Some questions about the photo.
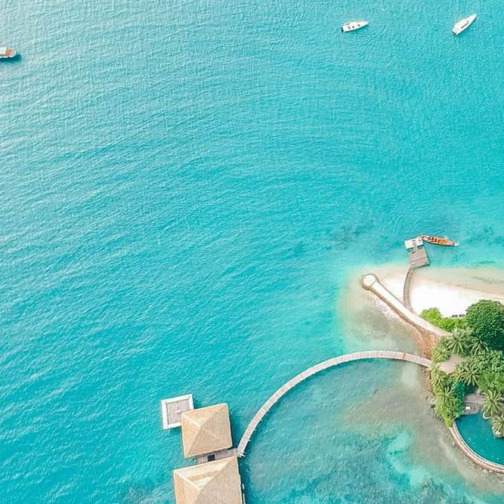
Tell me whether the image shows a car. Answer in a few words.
No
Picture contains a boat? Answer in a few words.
Yes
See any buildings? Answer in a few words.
Yes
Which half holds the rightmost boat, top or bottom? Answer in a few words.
top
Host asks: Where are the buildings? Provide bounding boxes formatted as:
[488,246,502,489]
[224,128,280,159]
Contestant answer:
[179,402,234,458]
[172,456,243,504]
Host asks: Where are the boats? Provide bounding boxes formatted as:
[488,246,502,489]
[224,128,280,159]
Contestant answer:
[419,234,460,246]
[340,21,366,32]
[450,13,476,38]
[0,47,17,58]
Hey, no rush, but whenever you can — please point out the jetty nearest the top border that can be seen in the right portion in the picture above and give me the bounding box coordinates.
[404,236,430,268]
